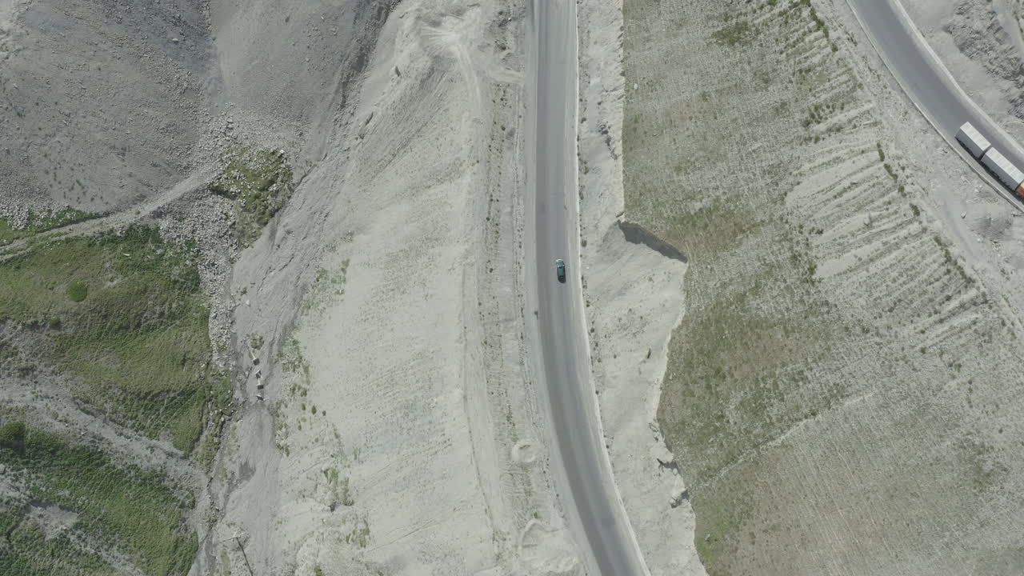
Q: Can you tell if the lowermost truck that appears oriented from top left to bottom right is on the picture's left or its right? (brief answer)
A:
right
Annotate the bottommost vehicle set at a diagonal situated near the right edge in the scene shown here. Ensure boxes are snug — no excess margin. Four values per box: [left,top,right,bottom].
[981,148,1024,196]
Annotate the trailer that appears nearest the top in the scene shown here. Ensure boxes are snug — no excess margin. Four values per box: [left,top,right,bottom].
[954,122,991,155]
